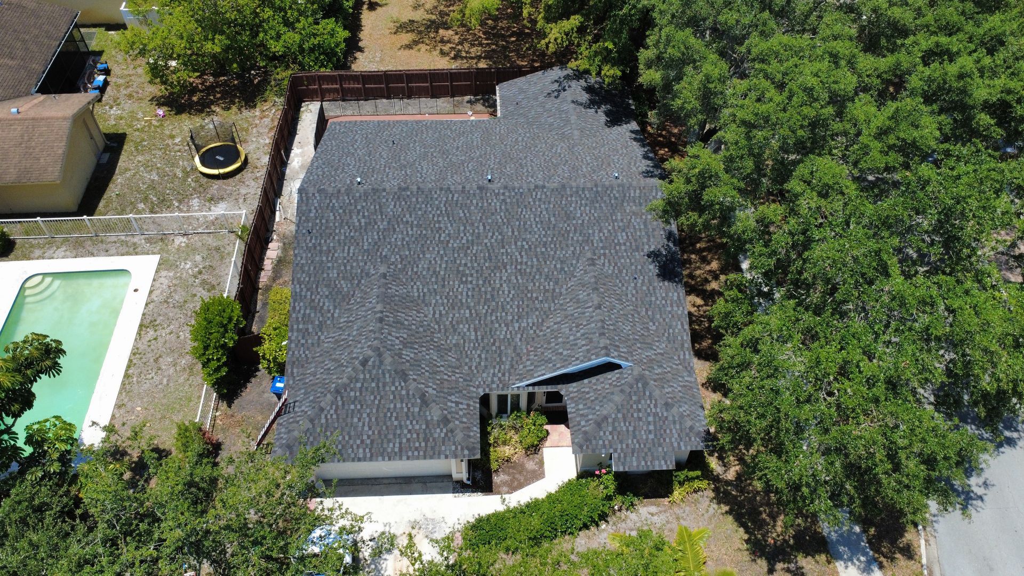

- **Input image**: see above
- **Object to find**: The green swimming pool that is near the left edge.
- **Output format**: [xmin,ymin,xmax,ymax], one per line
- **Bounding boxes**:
[0,270,131,472]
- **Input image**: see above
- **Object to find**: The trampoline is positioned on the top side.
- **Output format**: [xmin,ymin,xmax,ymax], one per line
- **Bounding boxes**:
[181,113,248,183]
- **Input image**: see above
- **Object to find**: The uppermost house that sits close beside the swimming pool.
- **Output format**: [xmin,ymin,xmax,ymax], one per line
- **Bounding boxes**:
[0,0,114,213]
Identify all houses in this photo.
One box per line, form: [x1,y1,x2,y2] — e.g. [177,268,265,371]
[270,63,709,496]
[0,0,114,213]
